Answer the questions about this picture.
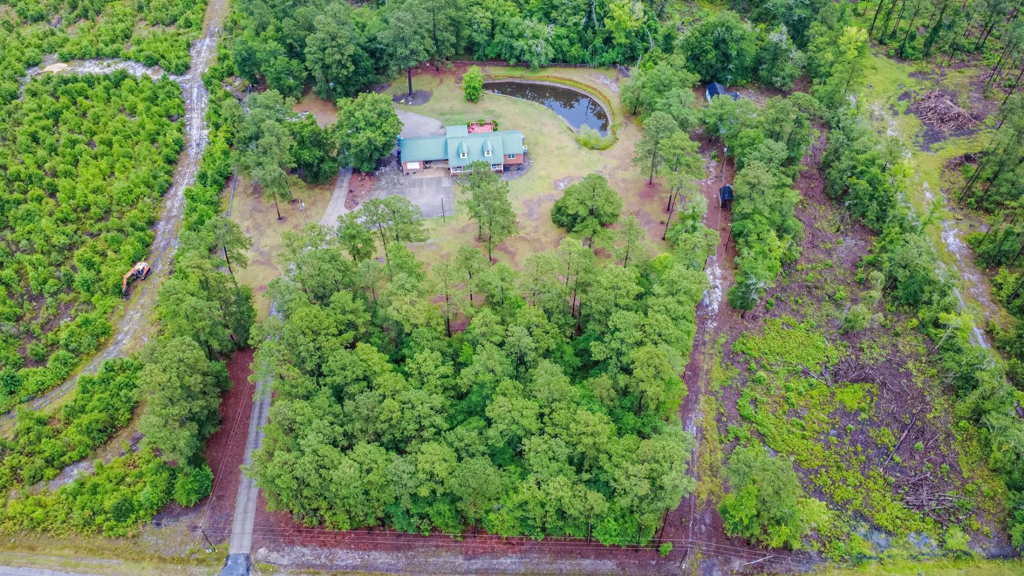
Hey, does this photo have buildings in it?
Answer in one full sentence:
Yes, this view includes a building.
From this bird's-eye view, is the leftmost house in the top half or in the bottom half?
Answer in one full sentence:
The leftmost house sits in the top half of the picture.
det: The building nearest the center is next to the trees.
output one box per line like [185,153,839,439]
[399,121,523,175]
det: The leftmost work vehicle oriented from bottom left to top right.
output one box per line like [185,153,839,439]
[117,258,151,294]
